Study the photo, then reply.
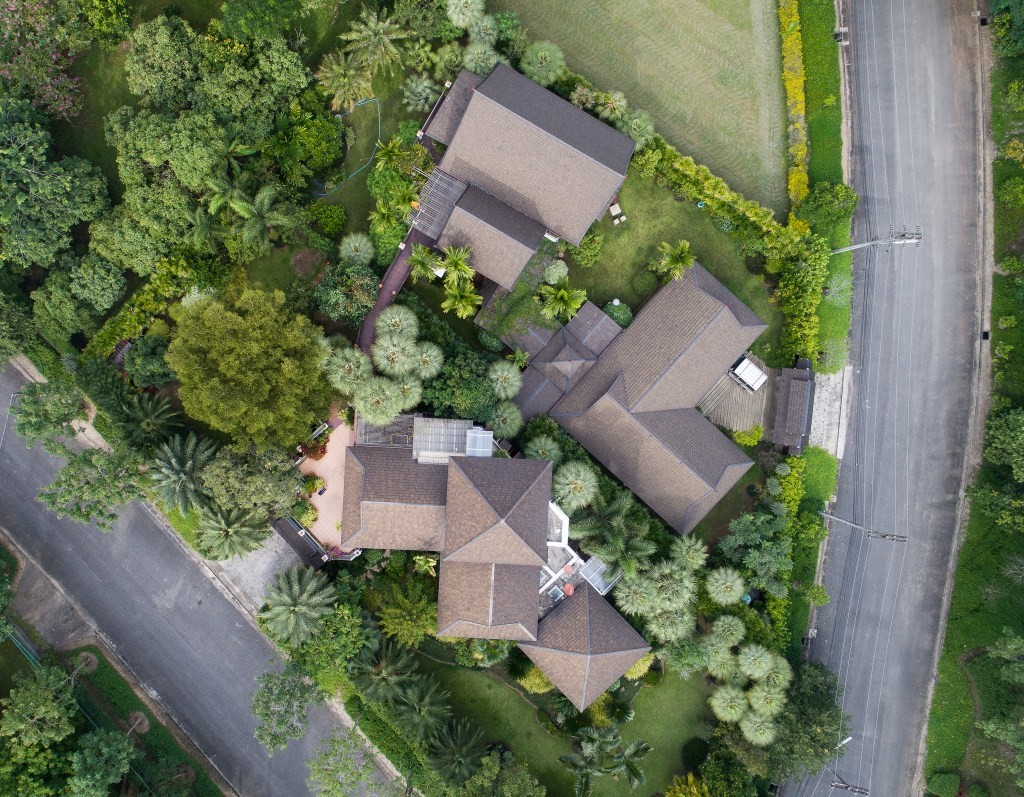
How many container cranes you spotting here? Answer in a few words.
0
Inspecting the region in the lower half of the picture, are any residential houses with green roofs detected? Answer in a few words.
No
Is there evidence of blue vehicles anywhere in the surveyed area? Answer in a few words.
No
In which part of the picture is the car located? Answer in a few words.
right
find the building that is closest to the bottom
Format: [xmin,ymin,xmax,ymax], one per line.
[340,417,652,713]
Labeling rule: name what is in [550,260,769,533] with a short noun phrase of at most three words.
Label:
house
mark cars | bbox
[728,351,770,392]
